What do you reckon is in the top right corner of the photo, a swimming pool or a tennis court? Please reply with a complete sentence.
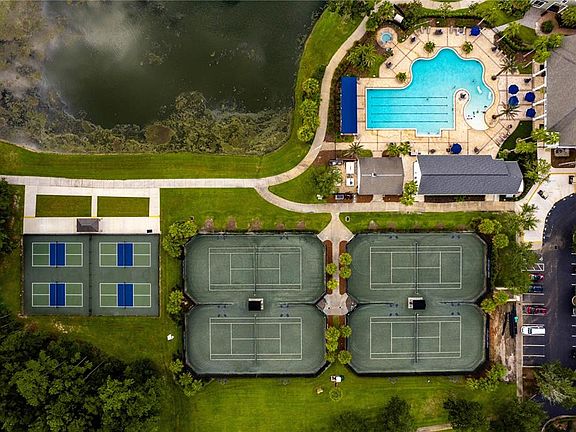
You can see a swimming pool in the top right corner of the photo.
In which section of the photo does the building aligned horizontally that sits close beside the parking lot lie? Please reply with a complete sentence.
The building aligned horizontally that sits close beside the parking lot appears toward the right of the photo.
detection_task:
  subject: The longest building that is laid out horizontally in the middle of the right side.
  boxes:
[416,155,526,200]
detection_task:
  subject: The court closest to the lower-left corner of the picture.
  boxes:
[32,281,83,309]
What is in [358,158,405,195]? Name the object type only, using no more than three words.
building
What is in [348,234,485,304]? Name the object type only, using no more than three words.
tennis court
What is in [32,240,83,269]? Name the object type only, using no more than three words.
sports court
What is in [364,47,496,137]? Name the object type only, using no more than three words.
swimming pool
